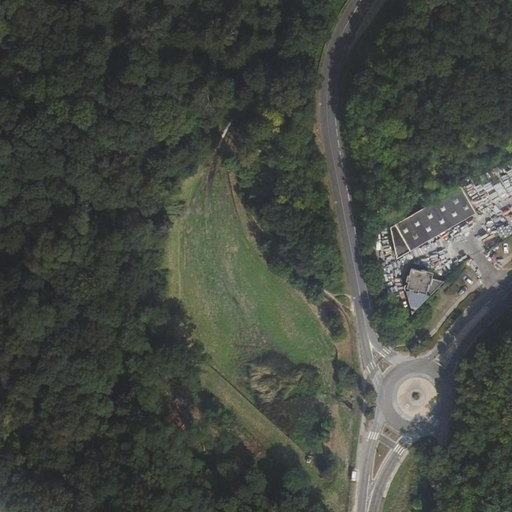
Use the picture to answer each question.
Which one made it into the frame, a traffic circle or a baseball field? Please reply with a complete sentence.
The image shows a traffic circle.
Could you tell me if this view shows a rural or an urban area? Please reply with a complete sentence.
The area shown here is rural.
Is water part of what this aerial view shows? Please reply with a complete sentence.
No, there's no water in this view.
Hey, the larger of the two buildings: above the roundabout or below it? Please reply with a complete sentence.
Looking at the scene, the larger of the two buildings is located above the roundabout.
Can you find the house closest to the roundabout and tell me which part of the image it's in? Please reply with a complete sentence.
The house closest to the roundabout is in the right part of the image.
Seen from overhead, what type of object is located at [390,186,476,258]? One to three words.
building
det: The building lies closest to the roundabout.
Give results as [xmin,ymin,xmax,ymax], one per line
[406,269,444,314]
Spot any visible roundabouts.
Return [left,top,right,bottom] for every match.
[378,358,454,434]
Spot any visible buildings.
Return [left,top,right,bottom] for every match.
[406,269,444,314]
[390,186,476,258]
